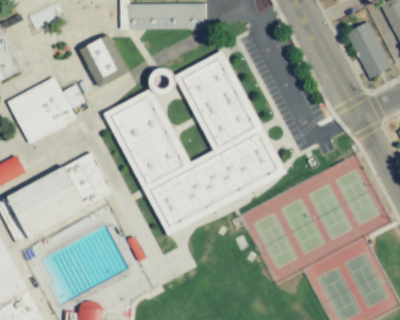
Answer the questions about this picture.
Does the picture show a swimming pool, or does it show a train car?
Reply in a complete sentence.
It is a swimming pool that can be seen here.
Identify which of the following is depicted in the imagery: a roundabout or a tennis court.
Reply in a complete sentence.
There is a tennis court in the scene.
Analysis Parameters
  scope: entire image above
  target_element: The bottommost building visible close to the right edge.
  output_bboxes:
[350,22,391,79]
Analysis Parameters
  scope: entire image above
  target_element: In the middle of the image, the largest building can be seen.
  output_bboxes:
[104,50,286,236]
